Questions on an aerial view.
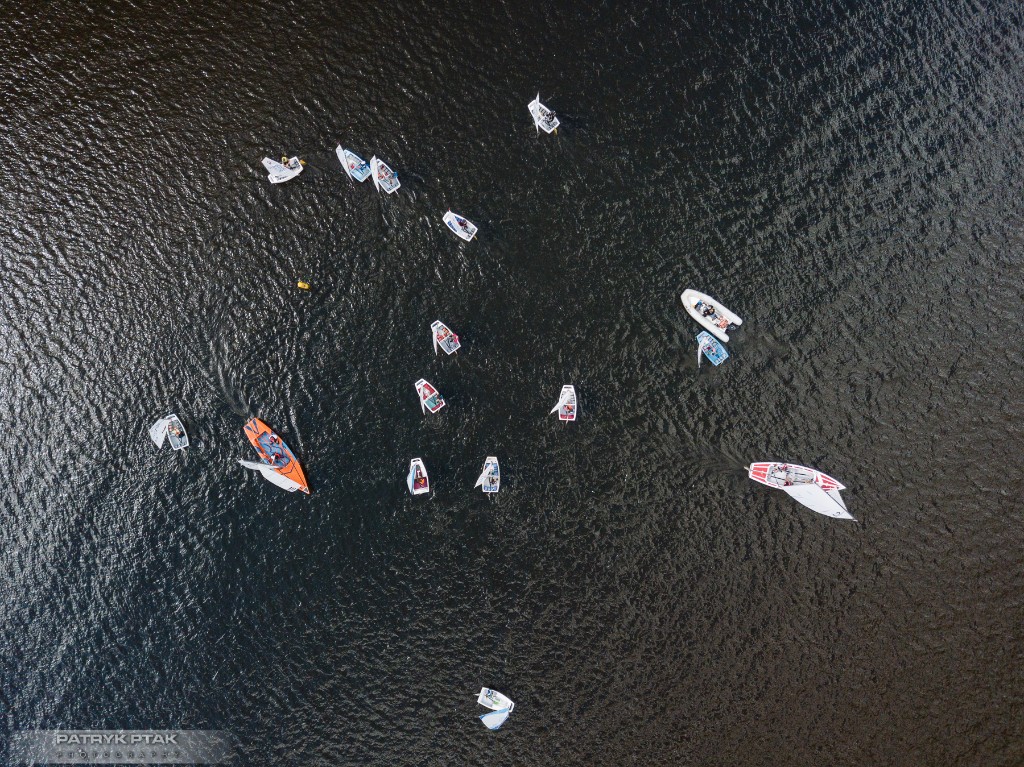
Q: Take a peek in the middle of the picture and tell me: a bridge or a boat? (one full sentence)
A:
The one visible in the middle of the picture is a boat.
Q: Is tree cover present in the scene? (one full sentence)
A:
No, the scene doesn't show any tree cover.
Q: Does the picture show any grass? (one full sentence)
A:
No, there is no grass in the image.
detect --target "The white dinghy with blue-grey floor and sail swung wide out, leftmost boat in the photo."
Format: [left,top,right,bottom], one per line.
[148,413,191,451]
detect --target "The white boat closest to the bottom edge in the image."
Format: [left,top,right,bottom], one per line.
[476,686,515,731]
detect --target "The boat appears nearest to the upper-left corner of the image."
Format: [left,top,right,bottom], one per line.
[258,155,305,184]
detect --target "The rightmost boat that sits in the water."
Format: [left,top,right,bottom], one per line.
[742,462,858,519]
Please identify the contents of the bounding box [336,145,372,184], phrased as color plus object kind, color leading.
white boat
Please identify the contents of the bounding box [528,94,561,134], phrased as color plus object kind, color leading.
white boat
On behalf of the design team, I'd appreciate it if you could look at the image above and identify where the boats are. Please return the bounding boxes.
[258,155,305,184]
[742,462,858,519]
[550,385,577,424]
[148,413,191,451]
[336,145,372,184]
[240,416,311,494]
[430,319,461,355]
[682,288,743,342]
[415,378,446,413]
[476,686,515,731]
[475,456,500,492]
[406,457,429,496]
[370,154,402,195]
[695,331,728,369]
[443,207,479,242]
[528,94,561,134]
